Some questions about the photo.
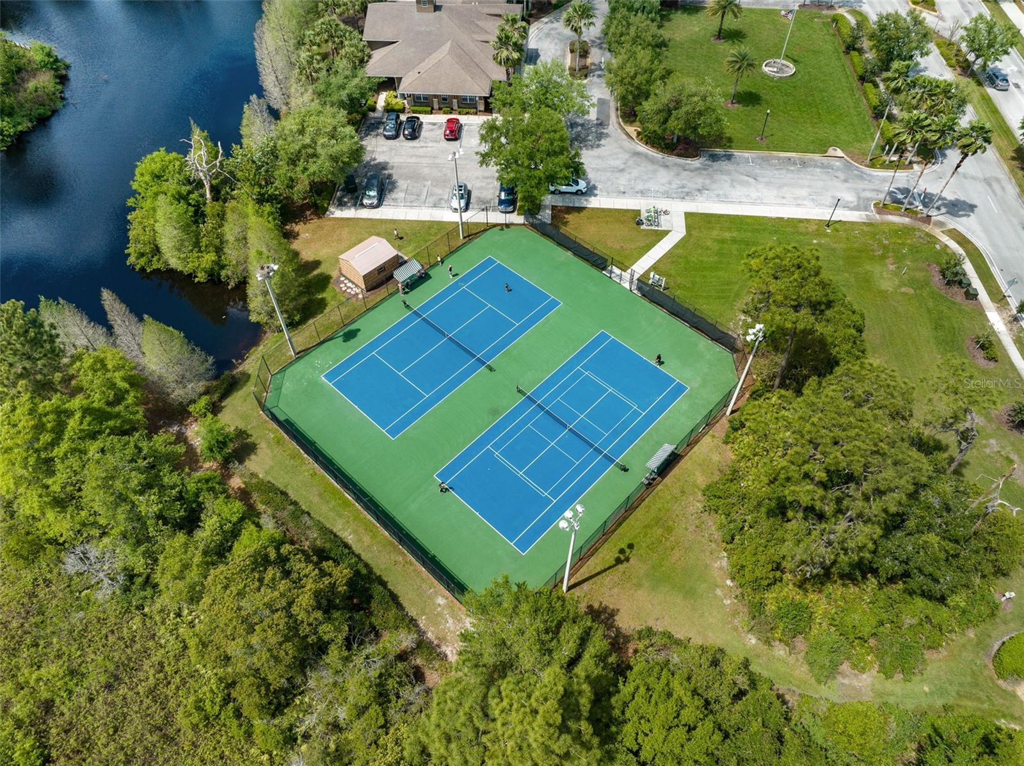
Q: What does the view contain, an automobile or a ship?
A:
automobile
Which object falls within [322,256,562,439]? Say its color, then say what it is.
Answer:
blue tennis court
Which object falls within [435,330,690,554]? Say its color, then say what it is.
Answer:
blue tennis court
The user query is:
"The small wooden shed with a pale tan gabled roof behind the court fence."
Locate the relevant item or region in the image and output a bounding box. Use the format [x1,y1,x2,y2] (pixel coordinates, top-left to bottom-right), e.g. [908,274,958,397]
[331,232,400,292]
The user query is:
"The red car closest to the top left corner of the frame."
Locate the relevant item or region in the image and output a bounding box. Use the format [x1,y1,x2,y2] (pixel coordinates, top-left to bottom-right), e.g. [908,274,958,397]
[444,114,460,136]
